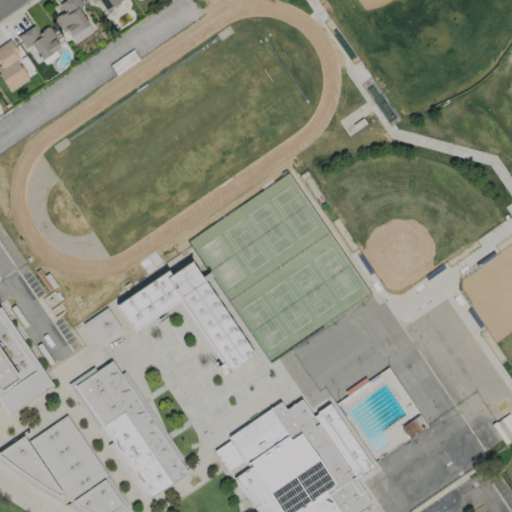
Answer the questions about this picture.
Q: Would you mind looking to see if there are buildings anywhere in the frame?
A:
Yes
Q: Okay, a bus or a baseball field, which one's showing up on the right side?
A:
baseball field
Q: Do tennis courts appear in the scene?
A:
Yes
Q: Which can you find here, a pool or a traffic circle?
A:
pool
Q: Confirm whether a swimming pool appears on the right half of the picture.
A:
Yes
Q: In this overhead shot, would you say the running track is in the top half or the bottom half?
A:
top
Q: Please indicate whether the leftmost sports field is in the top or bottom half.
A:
top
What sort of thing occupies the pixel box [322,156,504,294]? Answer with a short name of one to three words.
baseball field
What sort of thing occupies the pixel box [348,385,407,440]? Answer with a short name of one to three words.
swimming pool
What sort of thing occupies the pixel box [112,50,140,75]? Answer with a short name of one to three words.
shed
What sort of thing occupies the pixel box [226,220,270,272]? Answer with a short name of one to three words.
tennis court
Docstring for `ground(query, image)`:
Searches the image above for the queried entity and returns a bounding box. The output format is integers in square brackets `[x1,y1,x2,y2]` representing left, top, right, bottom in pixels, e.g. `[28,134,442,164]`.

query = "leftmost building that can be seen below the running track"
[0,308,54,415]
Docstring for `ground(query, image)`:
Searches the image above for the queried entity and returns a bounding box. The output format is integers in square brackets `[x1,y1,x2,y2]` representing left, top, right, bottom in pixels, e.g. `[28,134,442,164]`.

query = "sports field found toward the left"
[28,19,322,258]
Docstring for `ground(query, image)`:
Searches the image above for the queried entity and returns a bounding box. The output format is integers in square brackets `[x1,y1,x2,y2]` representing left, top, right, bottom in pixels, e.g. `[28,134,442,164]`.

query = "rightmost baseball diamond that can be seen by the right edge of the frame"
[461,245,512,367]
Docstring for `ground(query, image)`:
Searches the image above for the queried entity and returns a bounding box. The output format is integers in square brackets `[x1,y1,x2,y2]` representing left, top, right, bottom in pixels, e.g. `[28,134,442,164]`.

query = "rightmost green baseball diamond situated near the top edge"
[329,0,512,116]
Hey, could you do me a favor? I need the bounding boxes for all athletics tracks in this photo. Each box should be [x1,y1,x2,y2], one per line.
[10,0,340,278]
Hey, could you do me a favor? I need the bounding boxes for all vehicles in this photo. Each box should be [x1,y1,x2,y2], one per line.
[13,36,20,45]
[22,16,30,26]
[18,22,26,31]
[13,25,20,34]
